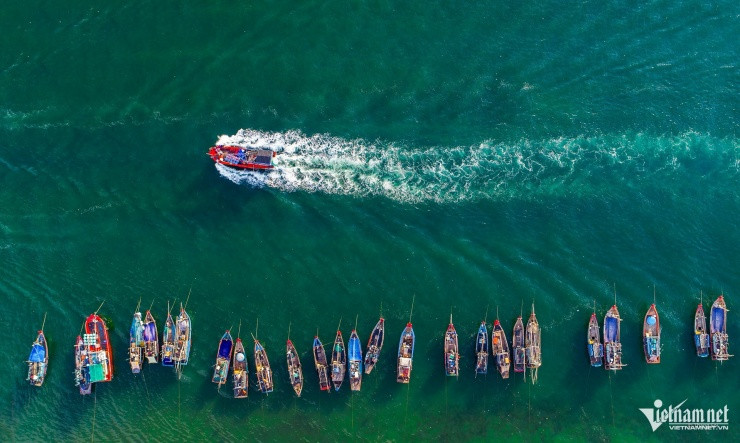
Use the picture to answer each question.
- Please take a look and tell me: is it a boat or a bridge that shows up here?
boat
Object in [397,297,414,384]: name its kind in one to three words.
boat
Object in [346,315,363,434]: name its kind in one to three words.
boat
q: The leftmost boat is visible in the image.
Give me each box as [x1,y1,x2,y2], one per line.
[27,314,49,385]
